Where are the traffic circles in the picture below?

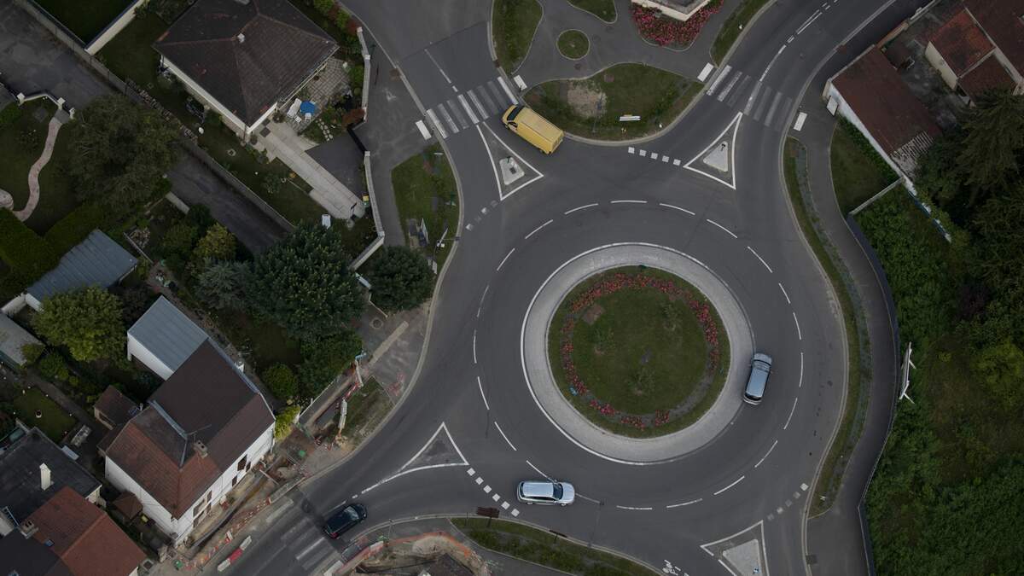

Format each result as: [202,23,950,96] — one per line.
[432,163,843,551]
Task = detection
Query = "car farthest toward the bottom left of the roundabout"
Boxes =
[319,503,370,542]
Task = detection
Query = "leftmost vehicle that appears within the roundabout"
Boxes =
[516,480,575,508]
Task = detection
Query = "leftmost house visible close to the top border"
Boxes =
[153,0,339,145]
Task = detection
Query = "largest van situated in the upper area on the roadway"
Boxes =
[499,107,562,158]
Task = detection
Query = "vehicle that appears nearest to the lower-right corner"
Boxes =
[742,354,773,408]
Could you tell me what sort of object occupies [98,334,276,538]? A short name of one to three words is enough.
house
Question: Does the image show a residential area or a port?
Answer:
residential area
